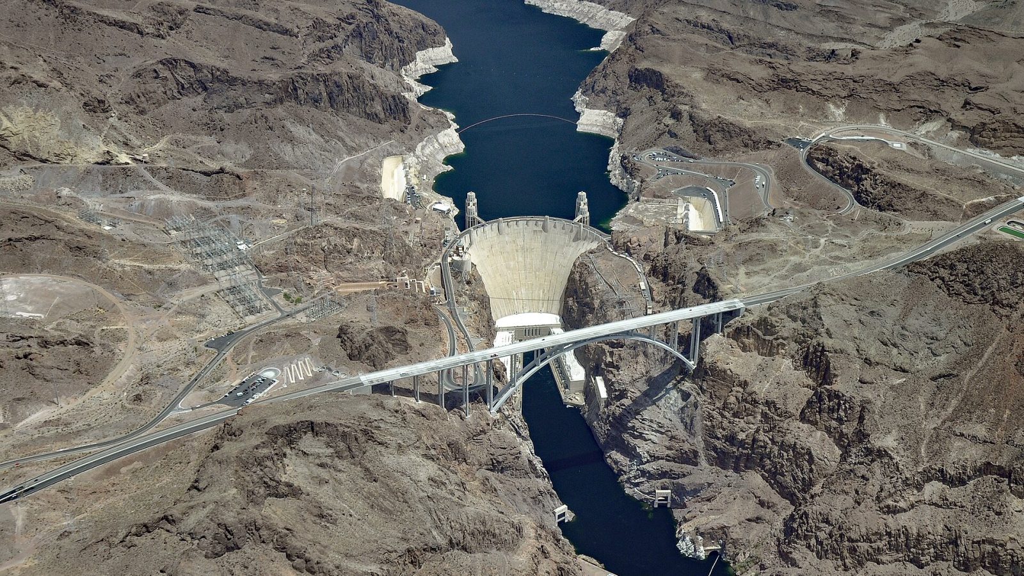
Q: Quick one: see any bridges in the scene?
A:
Yes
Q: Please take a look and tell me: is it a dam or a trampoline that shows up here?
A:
dam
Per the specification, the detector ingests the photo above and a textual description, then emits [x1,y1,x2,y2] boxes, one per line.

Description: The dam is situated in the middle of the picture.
[447,215,620,323]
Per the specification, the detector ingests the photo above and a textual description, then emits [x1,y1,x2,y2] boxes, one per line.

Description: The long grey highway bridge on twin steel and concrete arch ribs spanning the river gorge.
[358,298,749,425]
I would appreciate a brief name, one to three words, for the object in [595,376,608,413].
building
